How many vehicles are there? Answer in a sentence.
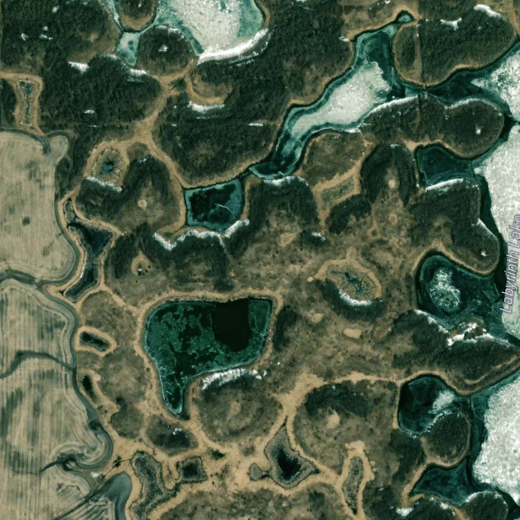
No vehicles are visible.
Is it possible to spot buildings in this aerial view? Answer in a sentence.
No, the photo shows no building.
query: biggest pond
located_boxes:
[144,298,272,415]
